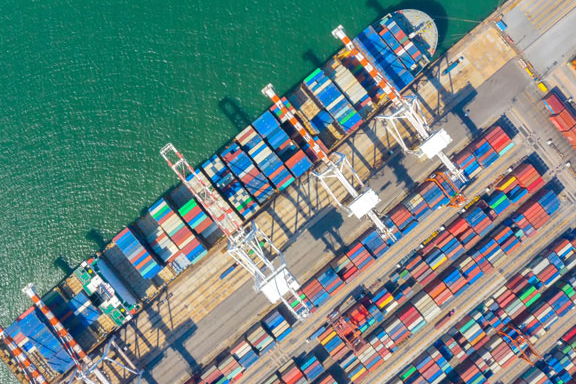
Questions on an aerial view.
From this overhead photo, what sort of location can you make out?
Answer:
port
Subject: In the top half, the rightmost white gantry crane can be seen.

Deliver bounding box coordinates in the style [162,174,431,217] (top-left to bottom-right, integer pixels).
[333,24,470,184]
